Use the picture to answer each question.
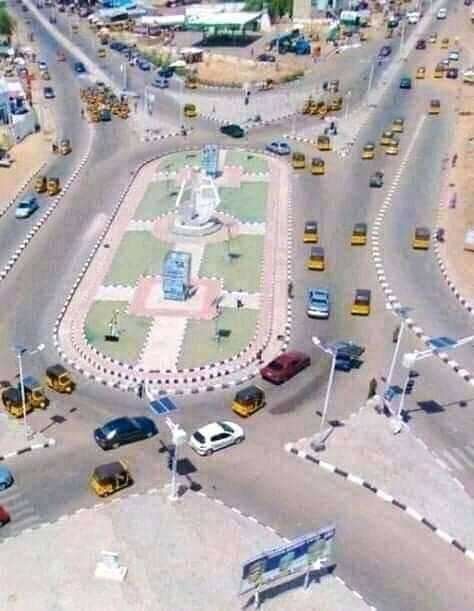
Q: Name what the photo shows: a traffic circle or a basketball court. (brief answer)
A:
traffic circle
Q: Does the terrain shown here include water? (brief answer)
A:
No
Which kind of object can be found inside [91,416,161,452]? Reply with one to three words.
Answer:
car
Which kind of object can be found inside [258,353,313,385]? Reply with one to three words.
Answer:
car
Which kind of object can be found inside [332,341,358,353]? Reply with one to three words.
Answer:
solar panel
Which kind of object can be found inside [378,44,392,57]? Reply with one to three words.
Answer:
vehicle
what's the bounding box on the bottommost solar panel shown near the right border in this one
[426,332,459,350]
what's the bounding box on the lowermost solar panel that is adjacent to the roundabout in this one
[146,391,178,413]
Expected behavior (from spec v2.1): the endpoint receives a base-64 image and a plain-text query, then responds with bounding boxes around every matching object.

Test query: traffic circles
[53,147,293,393]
